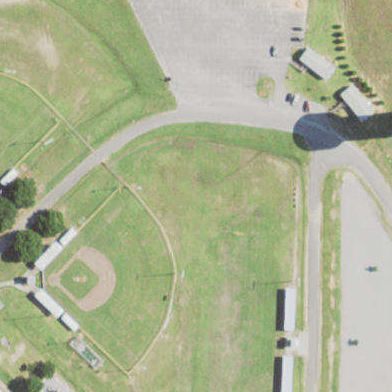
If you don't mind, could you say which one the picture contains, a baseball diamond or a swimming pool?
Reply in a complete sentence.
This aerial view contains a baseball diamond.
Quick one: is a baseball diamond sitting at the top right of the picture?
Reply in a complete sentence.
No, I see no baseball diamond at the top right of the picture.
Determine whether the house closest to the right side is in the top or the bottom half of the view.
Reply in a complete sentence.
It is in the top half that the house closest to the right side appears.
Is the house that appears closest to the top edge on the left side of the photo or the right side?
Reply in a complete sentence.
It is on the right.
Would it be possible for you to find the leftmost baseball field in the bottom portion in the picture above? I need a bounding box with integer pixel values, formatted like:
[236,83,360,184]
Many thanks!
[44,184,176,372]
